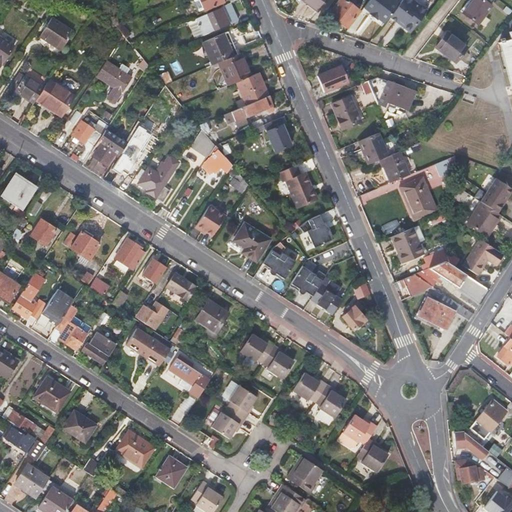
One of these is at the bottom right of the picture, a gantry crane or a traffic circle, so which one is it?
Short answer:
traffic circle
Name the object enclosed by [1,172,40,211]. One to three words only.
house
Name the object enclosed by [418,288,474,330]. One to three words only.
building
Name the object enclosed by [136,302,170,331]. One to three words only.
house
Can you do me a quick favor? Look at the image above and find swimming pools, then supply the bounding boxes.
[272,279,286,292]
[170,60,183,76]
